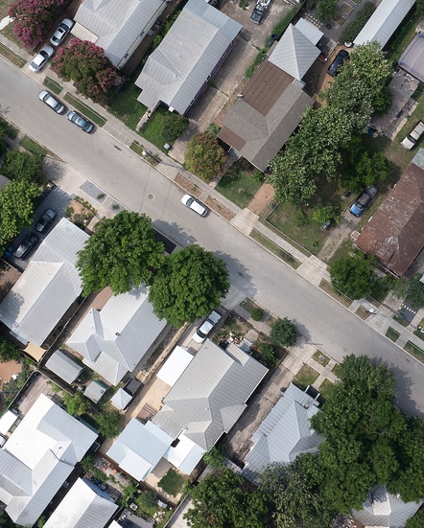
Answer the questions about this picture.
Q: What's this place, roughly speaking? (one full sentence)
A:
This image shows a residential area.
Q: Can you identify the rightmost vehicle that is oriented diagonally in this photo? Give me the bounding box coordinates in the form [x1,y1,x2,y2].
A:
[399,118,424,152]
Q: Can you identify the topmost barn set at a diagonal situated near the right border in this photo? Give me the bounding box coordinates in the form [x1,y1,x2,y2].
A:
[354,0,412,48]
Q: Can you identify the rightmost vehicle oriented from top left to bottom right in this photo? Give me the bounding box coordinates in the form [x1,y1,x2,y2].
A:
[181,193,209,217]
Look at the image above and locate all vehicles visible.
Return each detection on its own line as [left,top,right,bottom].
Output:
[0,434,9,450]
[350,182,380,219]
[49,18,75,45]
[66,110,96,134]
[29,45,55,73]
[192,311,223,343]
[39,92,67,115]
[13,231,40,261]
[399,118,424,152]
[181,193,209,217]
[324,51,349,82]
[251,0,271,28]
[34,206,60,235]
